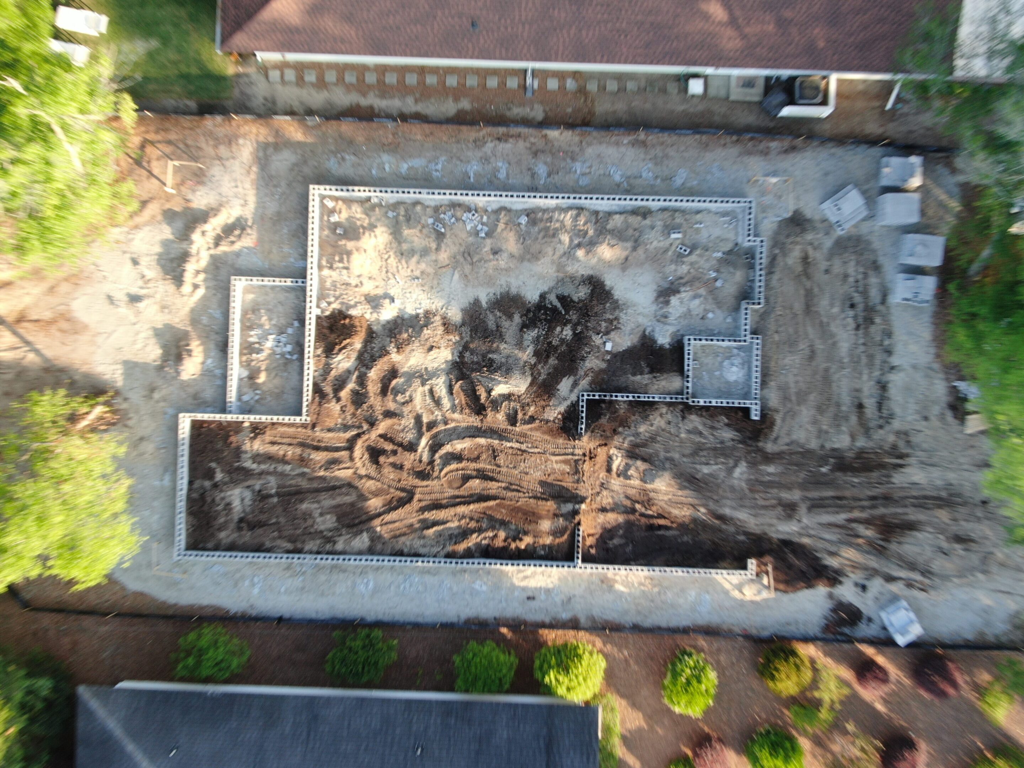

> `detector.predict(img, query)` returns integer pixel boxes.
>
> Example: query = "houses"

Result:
[214,0,976,94]
[73,683,603,768]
